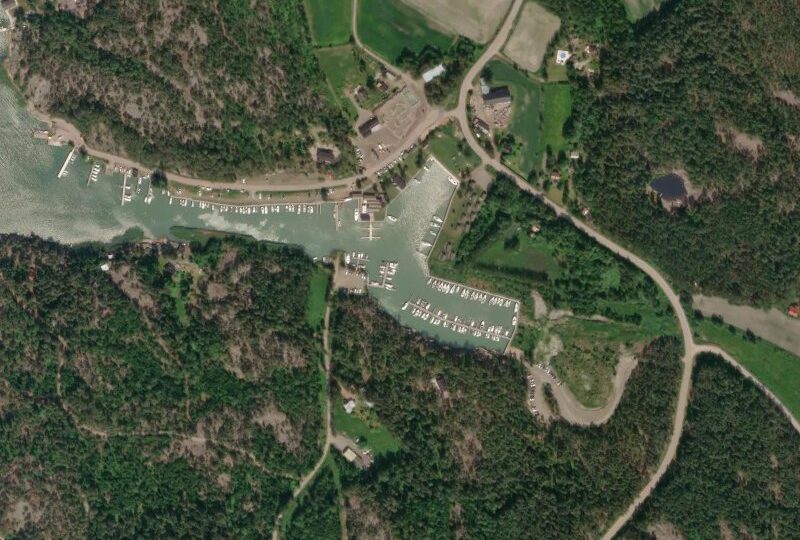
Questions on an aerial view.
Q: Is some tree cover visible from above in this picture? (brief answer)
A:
Yes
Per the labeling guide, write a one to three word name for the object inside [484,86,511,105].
barn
